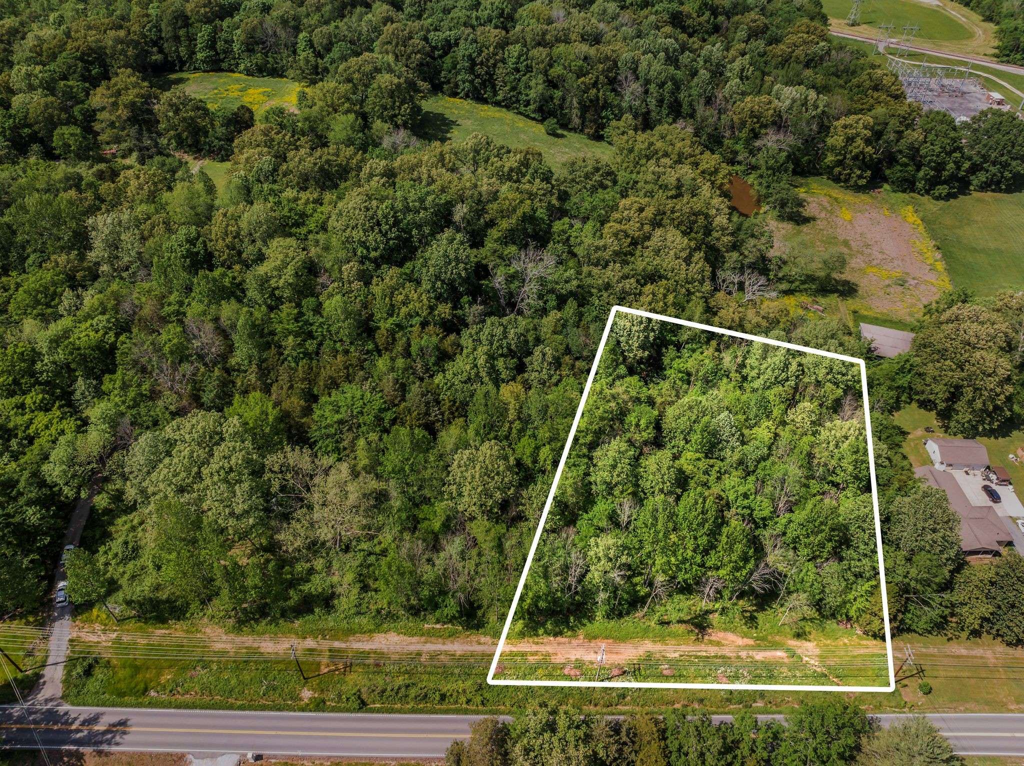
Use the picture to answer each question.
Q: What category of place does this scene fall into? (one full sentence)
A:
This image shows a forest.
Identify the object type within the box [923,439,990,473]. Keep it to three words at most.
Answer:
building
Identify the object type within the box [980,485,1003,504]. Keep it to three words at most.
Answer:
car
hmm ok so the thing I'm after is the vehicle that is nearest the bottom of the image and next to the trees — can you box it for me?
[53,582,67,604]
